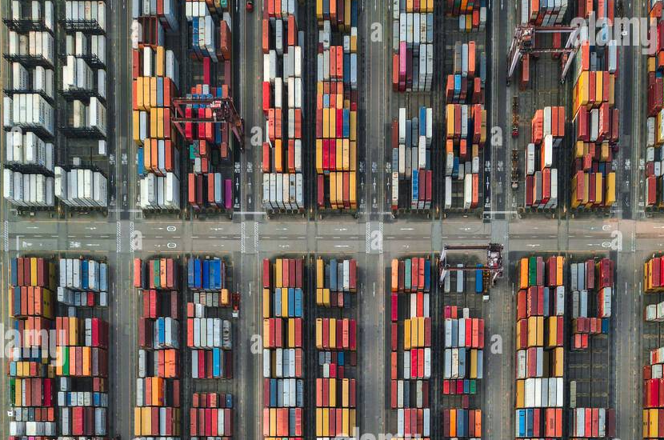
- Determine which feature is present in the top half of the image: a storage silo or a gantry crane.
gantry crane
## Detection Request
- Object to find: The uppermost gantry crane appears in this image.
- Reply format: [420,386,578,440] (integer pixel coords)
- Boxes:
[506,26,578,80]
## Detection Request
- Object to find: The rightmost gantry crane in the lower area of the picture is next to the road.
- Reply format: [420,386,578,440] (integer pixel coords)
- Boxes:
[437,246,506,285]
